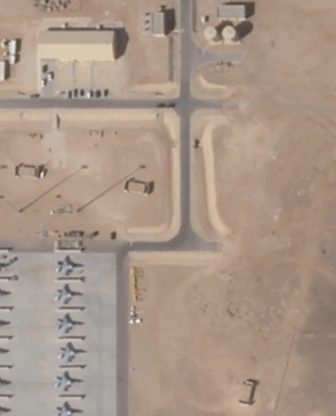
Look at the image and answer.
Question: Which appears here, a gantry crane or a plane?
plane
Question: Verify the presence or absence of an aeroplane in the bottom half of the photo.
Yes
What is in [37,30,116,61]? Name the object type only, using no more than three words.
hangar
